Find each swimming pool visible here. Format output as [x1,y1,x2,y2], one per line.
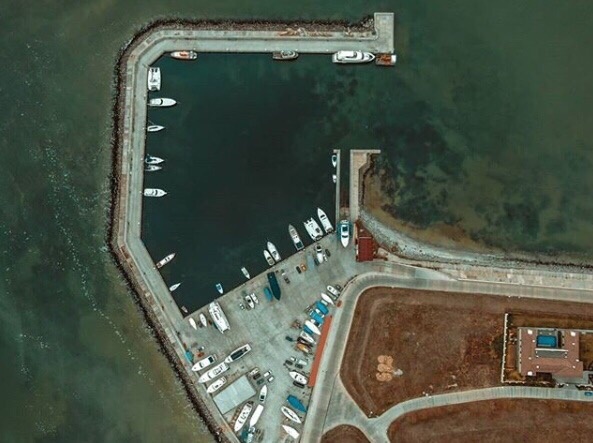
[537,335,557,347]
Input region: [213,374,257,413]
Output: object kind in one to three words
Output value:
shed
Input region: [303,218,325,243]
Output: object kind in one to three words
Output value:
boat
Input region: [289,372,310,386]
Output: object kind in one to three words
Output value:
boat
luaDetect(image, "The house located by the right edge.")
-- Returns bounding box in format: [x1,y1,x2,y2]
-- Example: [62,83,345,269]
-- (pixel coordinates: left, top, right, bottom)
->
[518,326,584,379]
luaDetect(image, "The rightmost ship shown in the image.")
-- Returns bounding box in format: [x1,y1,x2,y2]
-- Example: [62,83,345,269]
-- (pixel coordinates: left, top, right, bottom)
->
[374,53,397,66]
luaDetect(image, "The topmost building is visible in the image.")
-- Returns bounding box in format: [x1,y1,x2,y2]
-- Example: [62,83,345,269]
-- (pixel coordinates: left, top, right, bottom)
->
[358,237,374,261]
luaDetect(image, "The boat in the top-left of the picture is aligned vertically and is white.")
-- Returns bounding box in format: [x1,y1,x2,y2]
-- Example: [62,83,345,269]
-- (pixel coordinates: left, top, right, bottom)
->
[148,63,161,91]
